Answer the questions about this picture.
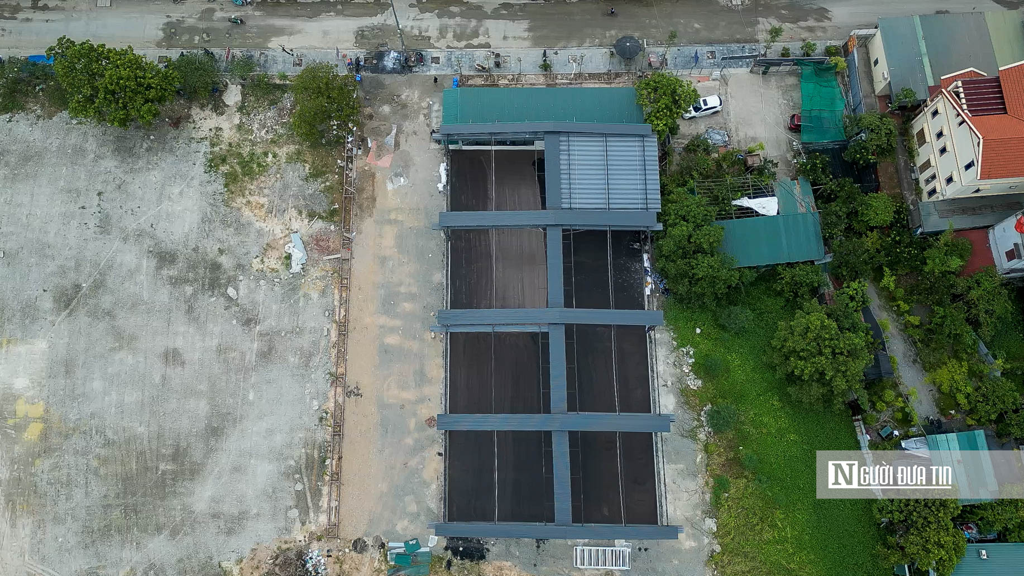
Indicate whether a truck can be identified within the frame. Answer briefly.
No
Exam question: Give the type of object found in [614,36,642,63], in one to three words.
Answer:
umbrella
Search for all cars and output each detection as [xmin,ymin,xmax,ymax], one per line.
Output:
[784,112,801,133]
[684,93,727,124]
